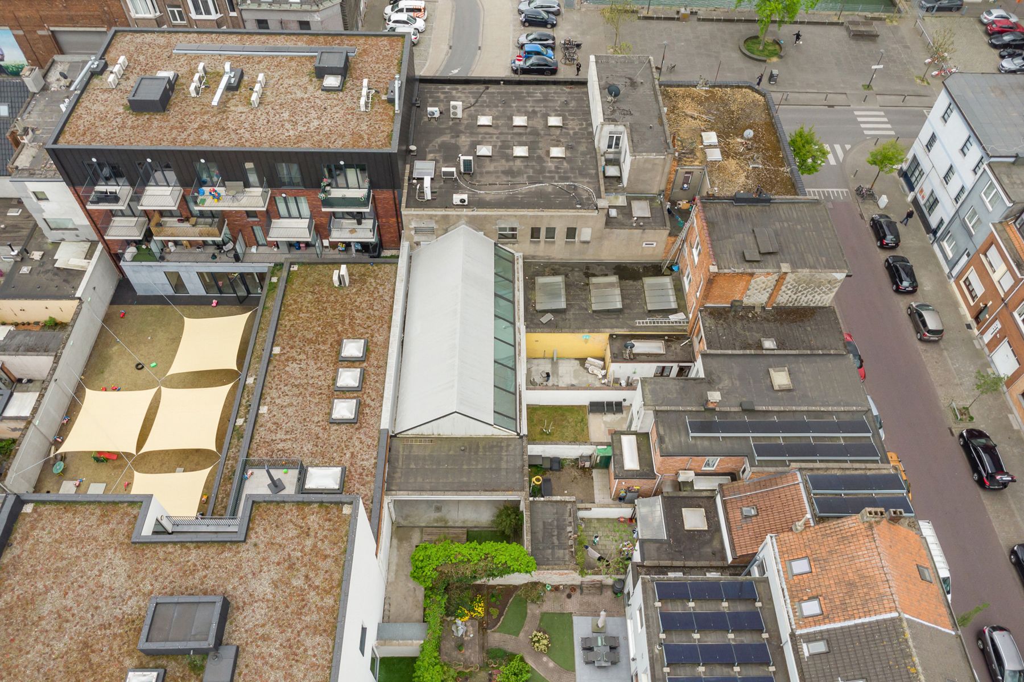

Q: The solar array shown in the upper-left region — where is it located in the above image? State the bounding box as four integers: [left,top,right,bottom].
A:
[170,43,359,59]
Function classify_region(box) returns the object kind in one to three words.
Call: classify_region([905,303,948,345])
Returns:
car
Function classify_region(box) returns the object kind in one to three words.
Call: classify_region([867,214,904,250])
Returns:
car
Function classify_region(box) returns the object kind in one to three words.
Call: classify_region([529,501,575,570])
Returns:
shed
